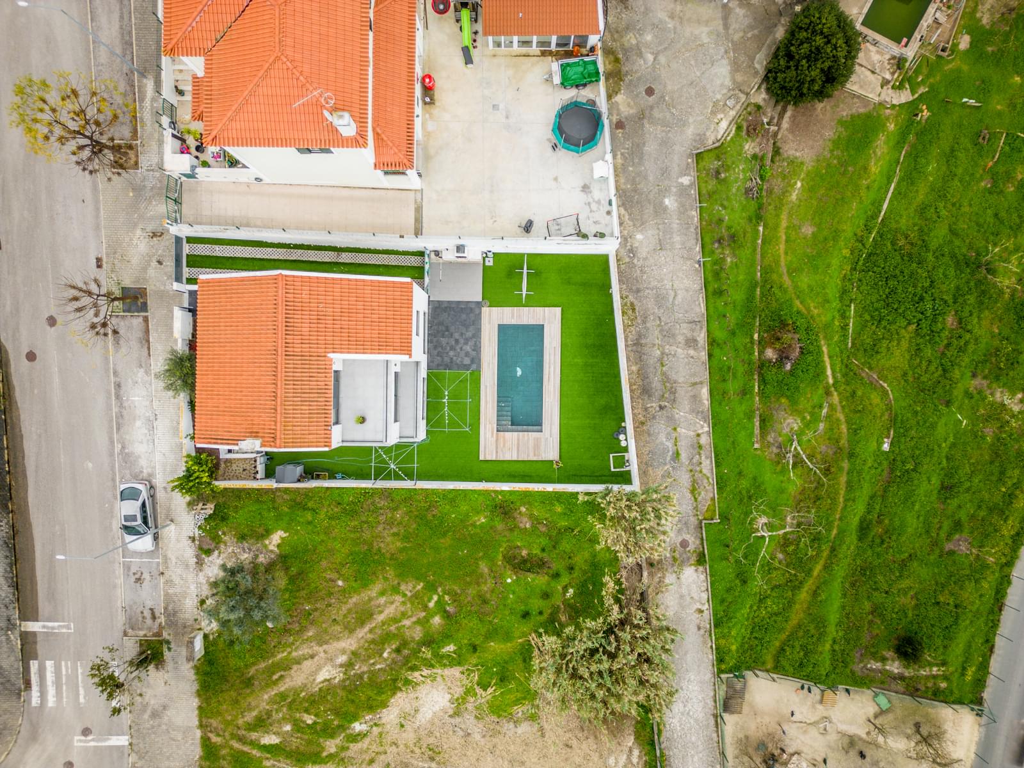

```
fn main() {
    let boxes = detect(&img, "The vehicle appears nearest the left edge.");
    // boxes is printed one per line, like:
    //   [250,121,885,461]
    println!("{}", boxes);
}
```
[116,483,153,552]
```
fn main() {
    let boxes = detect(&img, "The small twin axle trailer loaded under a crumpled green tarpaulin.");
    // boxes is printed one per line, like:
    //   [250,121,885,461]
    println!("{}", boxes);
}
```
[543,57,600,90]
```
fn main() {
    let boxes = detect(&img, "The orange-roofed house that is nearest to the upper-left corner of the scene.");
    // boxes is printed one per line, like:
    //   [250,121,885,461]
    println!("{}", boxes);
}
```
[160,0,422,188]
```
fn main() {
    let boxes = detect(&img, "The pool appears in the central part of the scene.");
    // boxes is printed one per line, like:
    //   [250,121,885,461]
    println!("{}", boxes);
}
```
[481,307,561,460]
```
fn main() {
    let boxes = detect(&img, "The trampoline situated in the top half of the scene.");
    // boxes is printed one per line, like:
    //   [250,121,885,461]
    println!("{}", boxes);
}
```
[554,90,605,155]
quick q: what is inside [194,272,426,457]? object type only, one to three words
house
